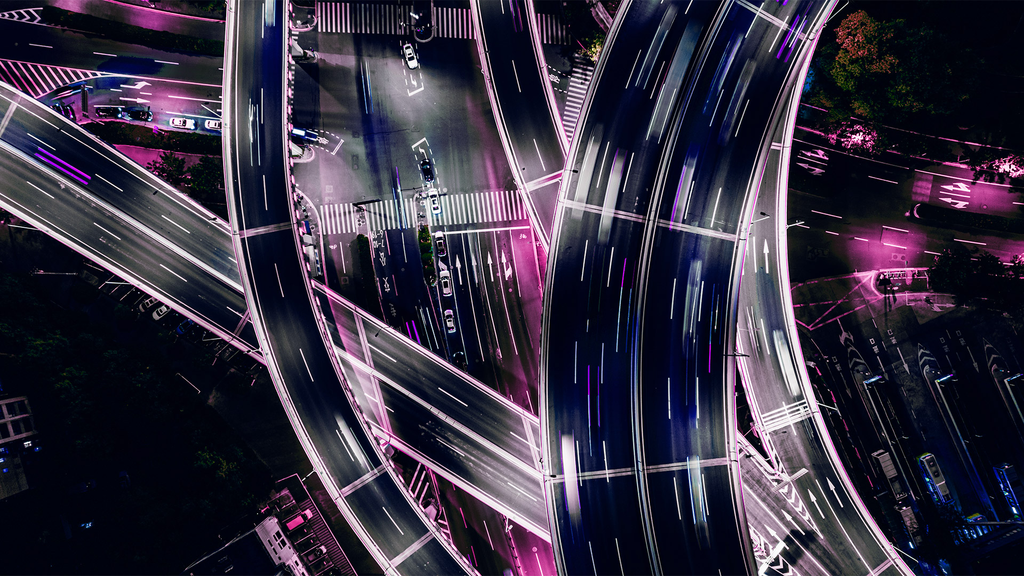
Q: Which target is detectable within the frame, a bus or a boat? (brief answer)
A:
bus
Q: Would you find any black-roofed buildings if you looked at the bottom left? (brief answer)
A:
Yes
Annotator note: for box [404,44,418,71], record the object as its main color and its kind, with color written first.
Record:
white car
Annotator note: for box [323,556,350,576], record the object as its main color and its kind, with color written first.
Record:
black car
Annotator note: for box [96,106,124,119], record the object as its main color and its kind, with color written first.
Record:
black vehicle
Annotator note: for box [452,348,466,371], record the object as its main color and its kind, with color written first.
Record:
black car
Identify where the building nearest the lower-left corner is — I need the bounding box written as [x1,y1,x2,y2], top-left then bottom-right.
[0,449,51,498]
